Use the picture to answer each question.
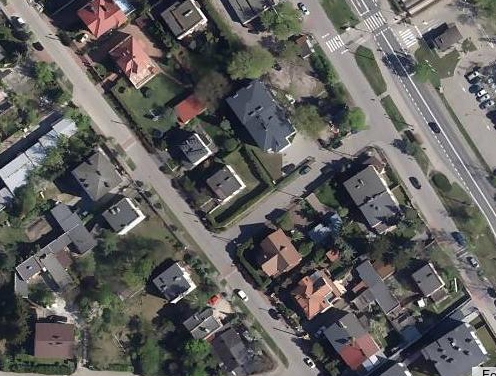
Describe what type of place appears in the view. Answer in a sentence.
The picture captures a residential area.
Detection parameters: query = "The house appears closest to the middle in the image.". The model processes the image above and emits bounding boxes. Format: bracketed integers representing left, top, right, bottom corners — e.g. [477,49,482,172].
[207,165,248,205]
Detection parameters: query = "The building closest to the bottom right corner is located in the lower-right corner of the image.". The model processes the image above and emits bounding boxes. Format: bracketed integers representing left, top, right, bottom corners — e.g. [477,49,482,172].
[424,323,491,376]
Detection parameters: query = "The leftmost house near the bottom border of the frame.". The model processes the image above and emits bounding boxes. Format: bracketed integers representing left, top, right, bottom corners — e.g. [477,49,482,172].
[34,322,80,359]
